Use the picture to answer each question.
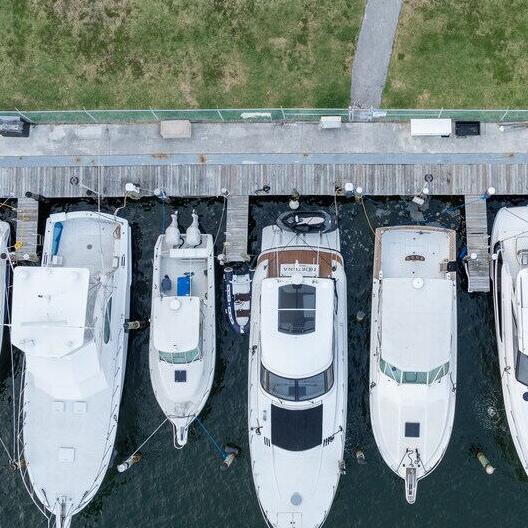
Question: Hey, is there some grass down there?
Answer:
Yes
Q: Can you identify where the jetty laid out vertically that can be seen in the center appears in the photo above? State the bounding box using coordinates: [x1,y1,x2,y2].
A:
[225,196,252,262]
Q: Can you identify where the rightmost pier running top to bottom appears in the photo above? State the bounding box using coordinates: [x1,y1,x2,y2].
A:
[464,195,490,292]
